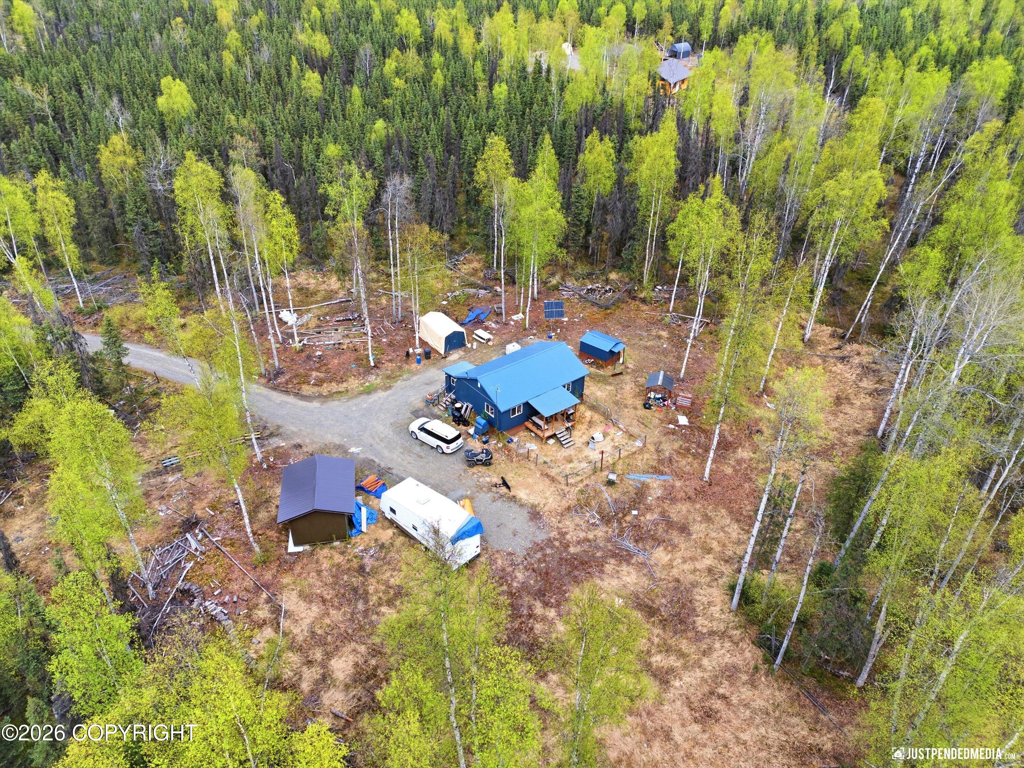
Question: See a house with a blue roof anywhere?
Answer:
Yes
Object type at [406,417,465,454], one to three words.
car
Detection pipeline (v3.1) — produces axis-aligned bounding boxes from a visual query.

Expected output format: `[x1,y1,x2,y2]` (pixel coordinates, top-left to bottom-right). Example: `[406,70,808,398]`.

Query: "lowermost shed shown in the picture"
[277,455,355,549]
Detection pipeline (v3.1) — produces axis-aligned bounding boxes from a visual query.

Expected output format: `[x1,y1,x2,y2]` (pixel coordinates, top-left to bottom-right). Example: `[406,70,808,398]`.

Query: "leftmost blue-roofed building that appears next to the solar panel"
[438,342,590,448]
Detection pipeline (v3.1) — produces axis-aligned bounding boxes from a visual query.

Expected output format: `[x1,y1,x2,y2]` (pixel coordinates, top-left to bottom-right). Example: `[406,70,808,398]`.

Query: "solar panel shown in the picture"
[542,302,562,331]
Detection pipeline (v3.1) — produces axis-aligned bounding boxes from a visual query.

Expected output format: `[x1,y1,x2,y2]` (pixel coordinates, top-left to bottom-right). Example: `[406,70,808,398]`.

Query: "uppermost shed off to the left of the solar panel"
[419,314,466,354]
